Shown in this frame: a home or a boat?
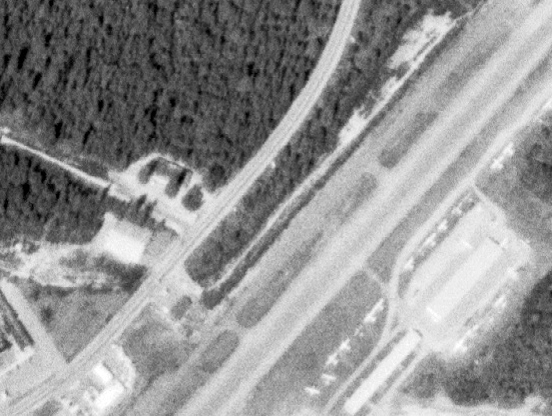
home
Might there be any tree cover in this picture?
Yes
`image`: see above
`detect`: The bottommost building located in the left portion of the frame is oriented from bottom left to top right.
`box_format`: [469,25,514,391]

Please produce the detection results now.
[97,384,124,410]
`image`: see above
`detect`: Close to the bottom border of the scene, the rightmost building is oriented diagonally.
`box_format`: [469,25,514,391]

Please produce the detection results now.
[343,328,423,416]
